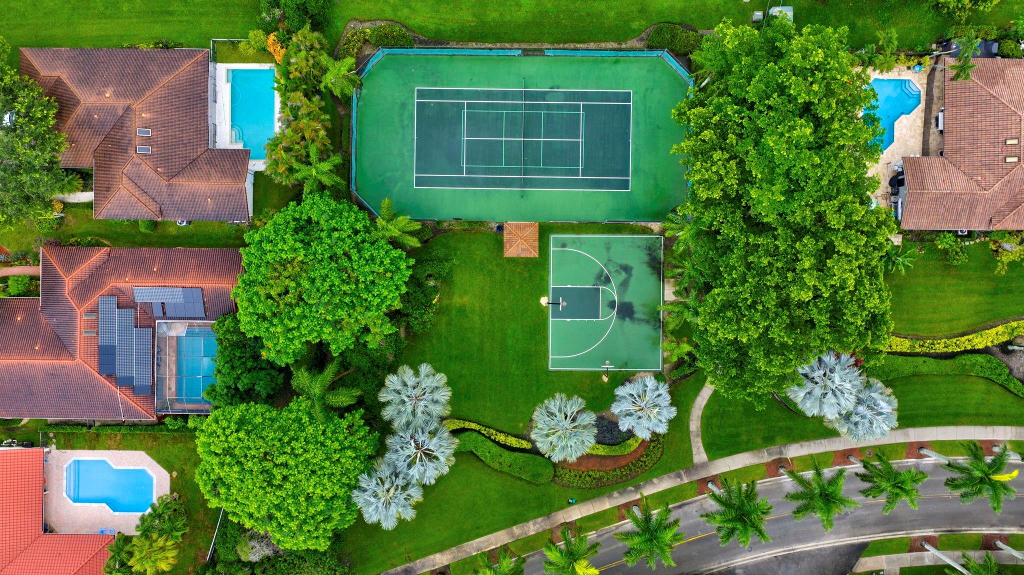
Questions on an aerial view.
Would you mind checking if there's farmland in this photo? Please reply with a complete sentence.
No, there's no farmland in this view.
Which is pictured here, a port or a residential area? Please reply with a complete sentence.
What you see here is a residential area.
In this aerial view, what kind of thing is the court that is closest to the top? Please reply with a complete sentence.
I'd say the court that is closest to the top is a tennis court.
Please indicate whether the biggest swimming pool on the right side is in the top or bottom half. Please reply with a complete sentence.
It is in the top half that the biggest swimming pool on the right side appears.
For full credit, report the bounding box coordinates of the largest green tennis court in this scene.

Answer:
[355,56,689,222]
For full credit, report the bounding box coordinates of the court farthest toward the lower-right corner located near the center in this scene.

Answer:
[549,234,665,373]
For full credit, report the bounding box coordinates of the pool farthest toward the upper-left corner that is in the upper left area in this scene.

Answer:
[224,67,280,161]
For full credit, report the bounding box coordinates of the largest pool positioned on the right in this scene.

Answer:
[858,76,923,153]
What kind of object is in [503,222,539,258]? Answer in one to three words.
gazebo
